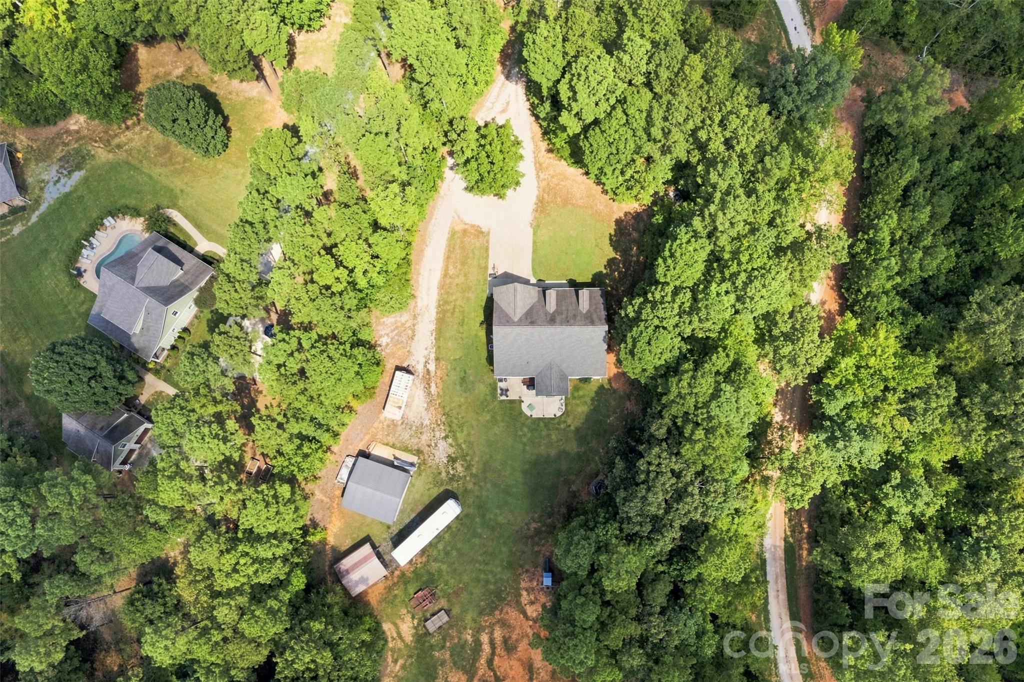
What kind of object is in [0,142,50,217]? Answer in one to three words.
house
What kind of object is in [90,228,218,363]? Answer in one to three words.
house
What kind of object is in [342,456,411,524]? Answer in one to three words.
building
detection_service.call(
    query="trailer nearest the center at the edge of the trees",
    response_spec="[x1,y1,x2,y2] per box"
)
[384,365,415,419]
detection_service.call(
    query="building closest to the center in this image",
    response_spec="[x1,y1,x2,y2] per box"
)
[492,282,608,397]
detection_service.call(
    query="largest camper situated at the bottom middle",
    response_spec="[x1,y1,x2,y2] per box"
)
[392,494,463,566]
